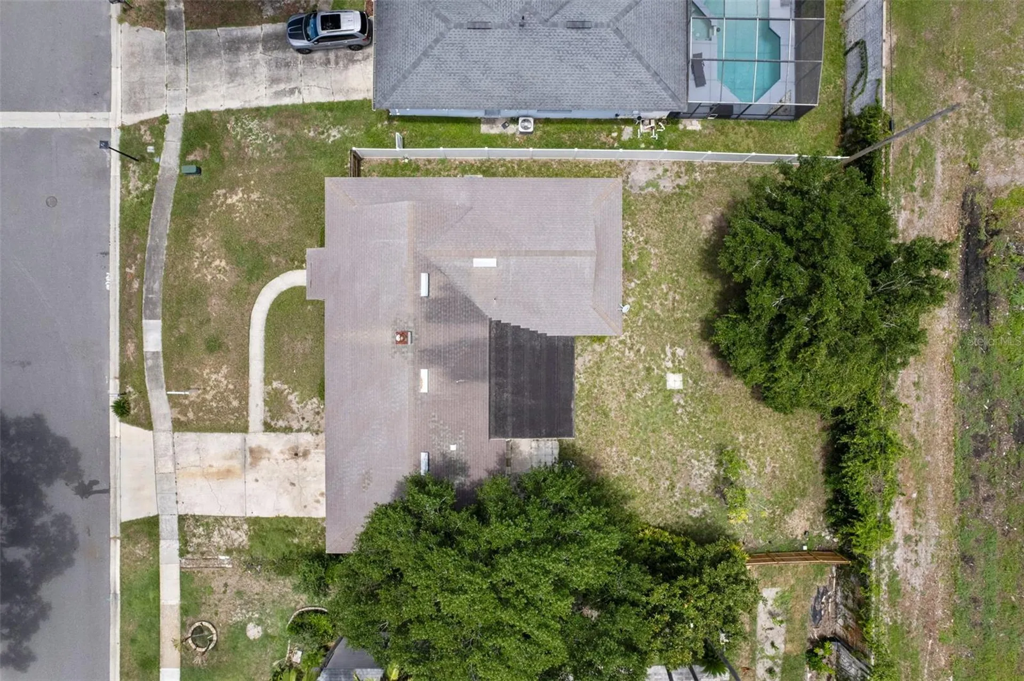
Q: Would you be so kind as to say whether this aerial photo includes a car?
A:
Yes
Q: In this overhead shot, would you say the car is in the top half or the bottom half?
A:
top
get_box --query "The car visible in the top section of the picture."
[283,6,371,55]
